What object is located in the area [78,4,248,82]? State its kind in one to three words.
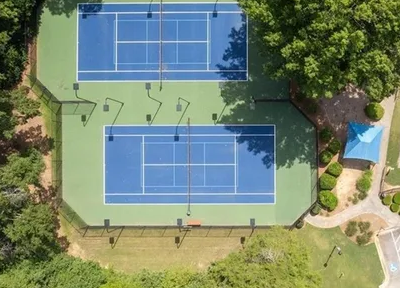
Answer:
tennis court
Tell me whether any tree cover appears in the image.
Yes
